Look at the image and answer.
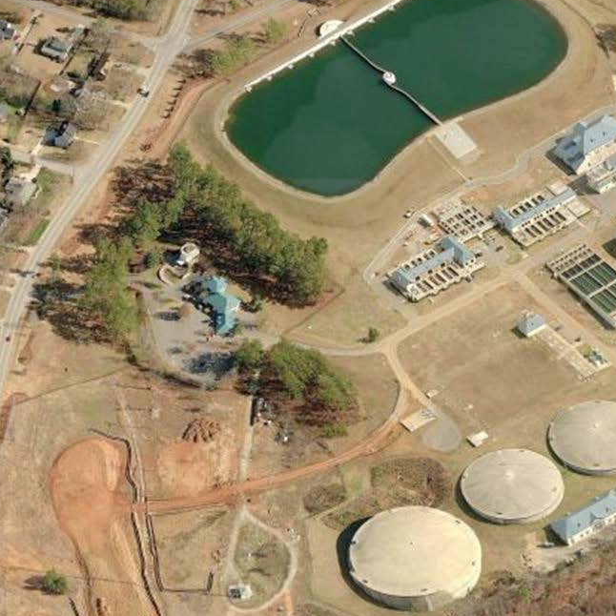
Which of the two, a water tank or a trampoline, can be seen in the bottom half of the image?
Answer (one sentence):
The feature located in the bottom half of the image is a water tank.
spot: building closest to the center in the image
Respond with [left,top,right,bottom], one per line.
[197,286,247,340]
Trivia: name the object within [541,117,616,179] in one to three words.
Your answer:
building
